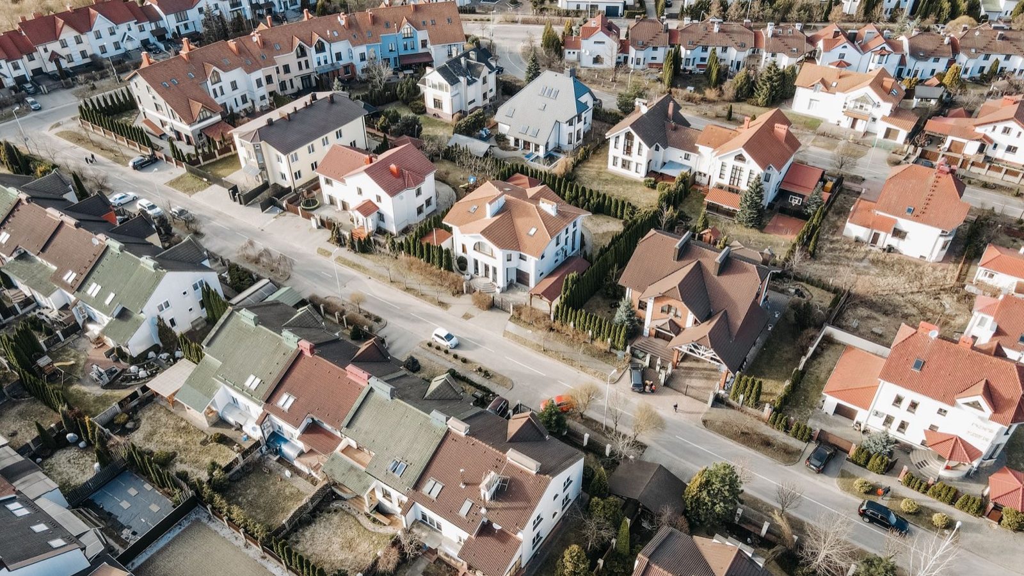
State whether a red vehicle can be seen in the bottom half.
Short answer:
Yes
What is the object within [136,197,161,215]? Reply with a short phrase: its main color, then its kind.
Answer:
white car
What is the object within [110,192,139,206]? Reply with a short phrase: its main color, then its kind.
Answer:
white car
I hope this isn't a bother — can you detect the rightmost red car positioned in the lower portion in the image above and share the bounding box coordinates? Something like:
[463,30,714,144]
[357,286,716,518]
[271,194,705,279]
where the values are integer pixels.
[540,395,576,415]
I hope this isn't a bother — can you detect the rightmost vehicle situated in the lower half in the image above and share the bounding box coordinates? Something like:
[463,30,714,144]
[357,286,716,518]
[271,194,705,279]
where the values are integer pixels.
[855,501,911,540]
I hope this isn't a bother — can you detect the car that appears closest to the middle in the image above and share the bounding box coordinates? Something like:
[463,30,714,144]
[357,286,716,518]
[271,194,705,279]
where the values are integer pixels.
[429,328,459,351]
